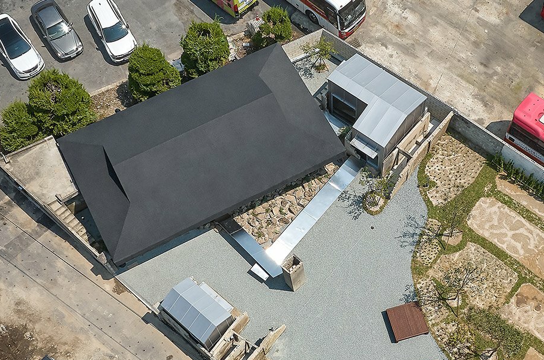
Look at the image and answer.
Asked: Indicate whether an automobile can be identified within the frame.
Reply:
Yes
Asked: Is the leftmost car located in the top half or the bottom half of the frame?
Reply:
top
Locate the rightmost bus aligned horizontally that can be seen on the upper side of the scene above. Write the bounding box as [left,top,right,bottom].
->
[290,0,363,31]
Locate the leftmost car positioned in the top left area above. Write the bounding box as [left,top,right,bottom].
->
[0,9,43,82]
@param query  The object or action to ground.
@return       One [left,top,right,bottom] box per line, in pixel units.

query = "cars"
[86,0,135,63]
[0,9,43,82]
[27,0,81,63]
